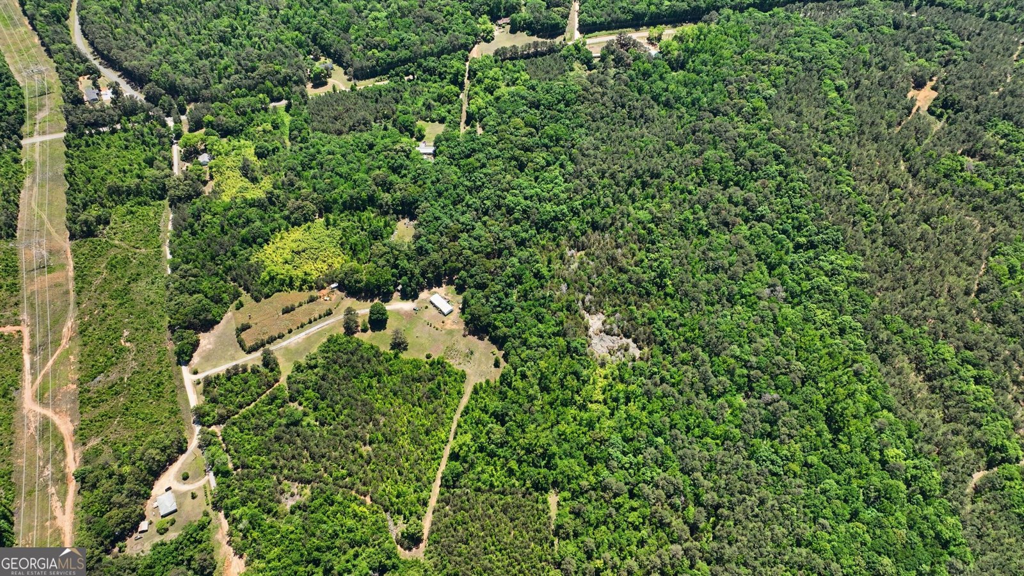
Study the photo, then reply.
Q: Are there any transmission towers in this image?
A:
Yes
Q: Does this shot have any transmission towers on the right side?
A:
No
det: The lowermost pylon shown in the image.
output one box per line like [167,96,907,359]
[14,242,53,268]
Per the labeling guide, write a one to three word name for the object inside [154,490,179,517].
house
